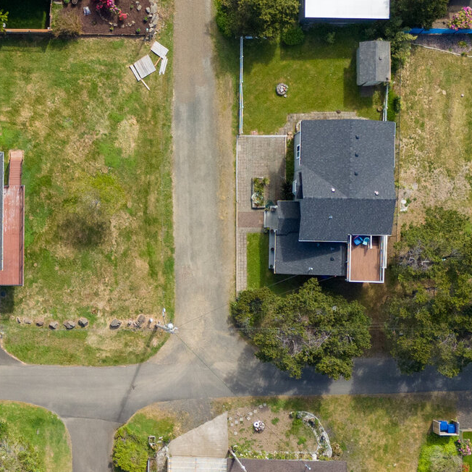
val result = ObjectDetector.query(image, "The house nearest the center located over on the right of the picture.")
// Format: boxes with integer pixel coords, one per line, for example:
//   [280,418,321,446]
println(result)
[264,119,396,283]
